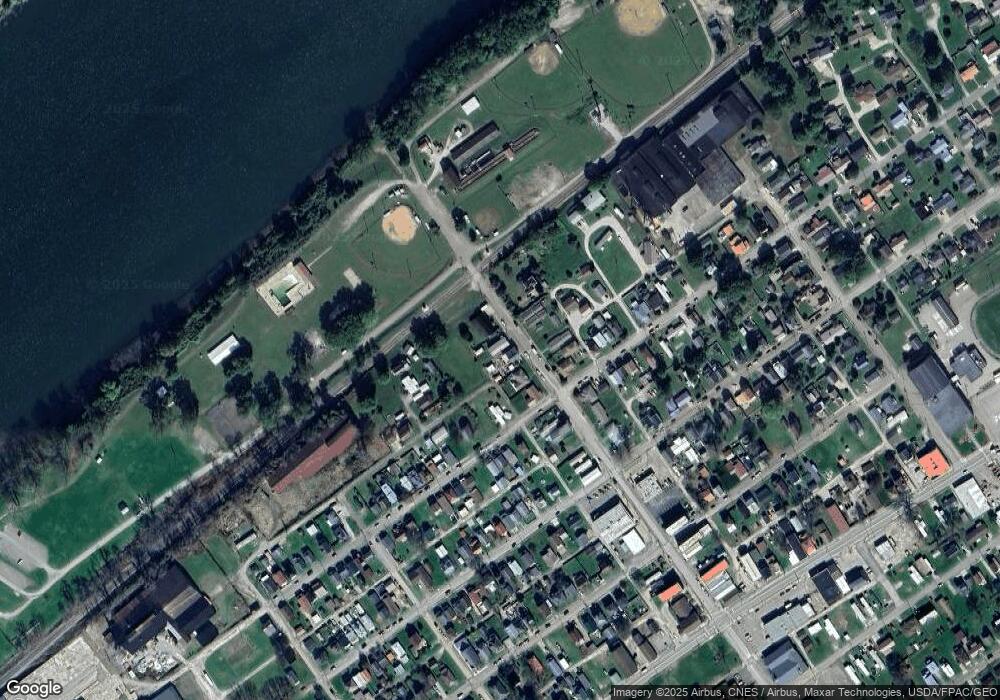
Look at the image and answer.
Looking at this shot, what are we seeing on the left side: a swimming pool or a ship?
swimming pool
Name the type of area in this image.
residential area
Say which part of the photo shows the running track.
right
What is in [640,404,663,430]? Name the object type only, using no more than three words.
house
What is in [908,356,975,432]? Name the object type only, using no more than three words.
building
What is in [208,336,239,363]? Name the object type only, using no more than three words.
shed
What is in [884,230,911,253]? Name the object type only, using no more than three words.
house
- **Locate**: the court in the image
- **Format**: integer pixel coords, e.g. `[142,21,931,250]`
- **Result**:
[206,397,257,446]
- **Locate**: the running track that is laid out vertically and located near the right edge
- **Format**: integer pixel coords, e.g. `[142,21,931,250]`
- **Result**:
[969,271,1000,363]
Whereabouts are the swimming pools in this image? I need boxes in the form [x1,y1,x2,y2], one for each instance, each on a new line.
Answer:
[257,263,313,316]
